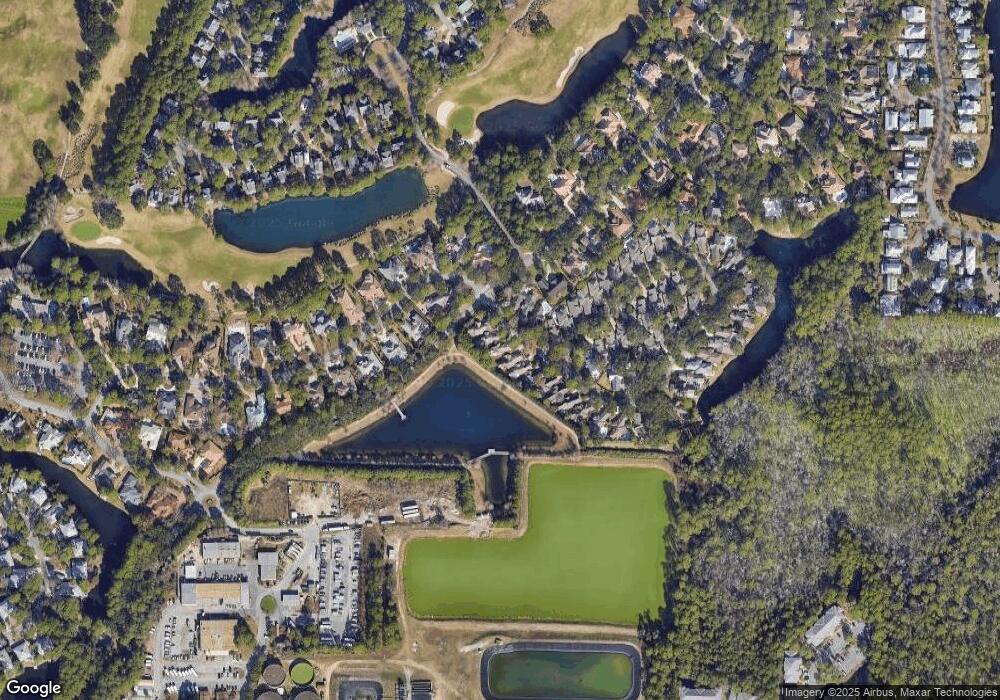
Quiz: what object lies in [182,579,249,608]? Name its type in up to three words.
building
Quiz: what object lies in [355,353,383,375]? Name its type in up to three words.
house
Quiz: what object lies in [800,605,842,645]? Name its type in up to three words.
barn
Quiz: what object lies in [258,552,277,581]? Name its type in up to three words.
shed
